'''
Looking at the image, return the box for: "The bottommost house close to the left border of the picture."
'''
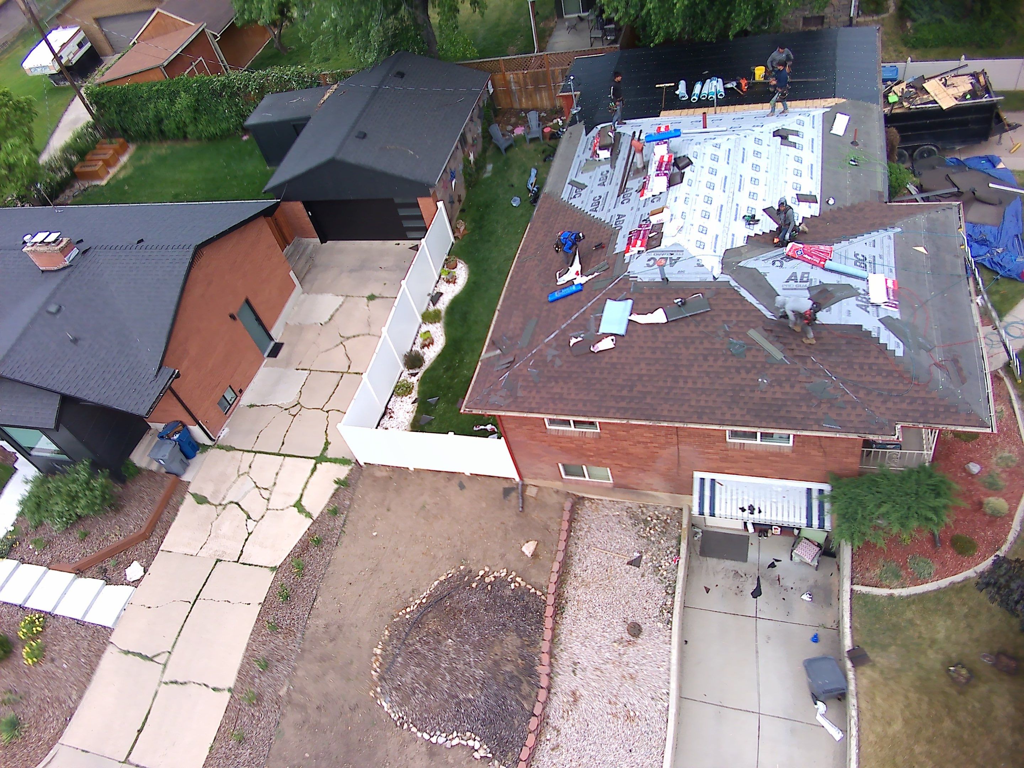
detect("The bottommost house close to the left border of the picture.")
[0,167,308,491]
